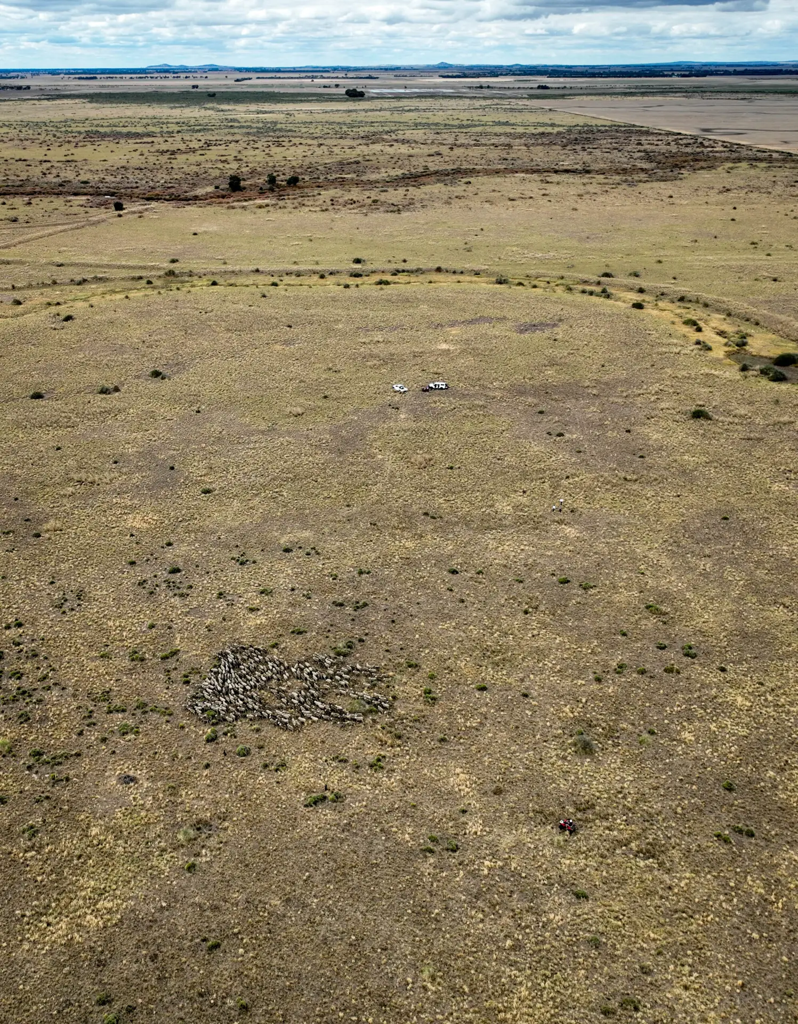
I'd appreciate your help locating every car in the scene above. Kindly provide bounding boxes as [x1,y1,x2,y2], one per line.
[393,384,407,391]
[428,381,449,390]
